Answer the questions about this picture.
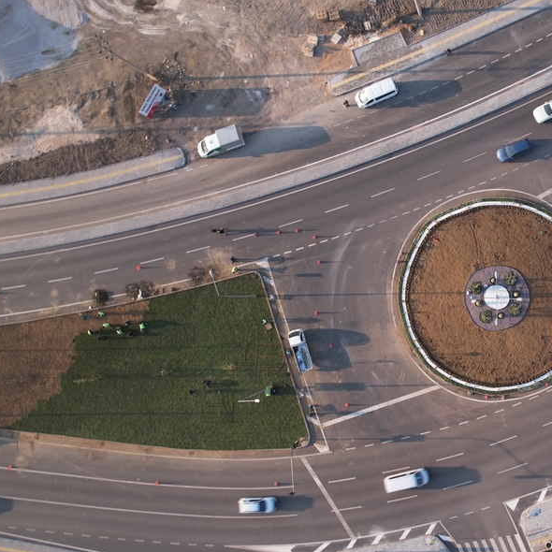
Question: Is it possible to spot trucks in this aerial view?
Yes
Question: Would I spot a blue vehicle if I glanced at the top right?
Yes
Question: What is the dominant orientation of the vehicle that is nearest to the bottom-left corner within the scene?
from side to side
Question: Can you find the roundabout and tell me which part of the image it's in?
right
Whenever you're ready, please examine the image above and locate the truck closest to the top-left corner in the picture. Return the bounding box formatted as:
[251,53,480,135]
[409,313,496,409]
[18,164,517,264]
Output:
[196,120,244,156]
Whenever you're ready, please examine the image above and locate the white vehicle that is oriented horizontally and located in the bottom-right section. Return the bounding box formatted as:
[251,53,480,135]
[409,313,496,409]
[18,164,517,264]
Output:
[382,465,428,493]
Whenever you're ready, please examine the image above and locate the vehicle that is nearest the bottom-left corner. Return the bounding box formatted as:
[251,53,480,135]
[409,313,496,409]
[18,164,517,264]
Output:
[238,495,277,515]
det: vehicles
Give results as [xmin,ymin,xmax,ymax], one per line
[495,137,532,162]
[238,495,277,515]
[532,101,552,124]
[196,120,244,156]
[285,329,312,375]
[382,465,428,493]
[355,77,401,108]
